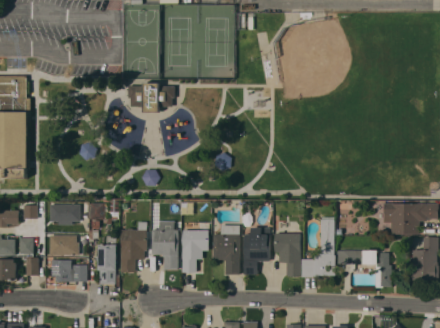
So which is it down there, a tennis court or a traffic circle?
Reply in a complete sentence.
There is a tennis court in the scene.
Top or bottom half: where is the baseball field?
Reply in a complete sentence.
The baseball field sits in the top half of the picture.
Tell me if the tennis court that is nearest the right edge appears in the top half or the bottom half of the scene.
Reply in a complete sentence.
The top half of the photo is where the tennis court that is nearest the right edge is.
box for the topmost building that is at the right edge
[384,198,439,234]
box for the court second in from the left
[164,4,200,78]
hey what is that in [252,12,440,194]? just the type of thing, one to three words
baseball field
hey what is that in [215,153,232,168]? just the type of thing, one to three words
gazebo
